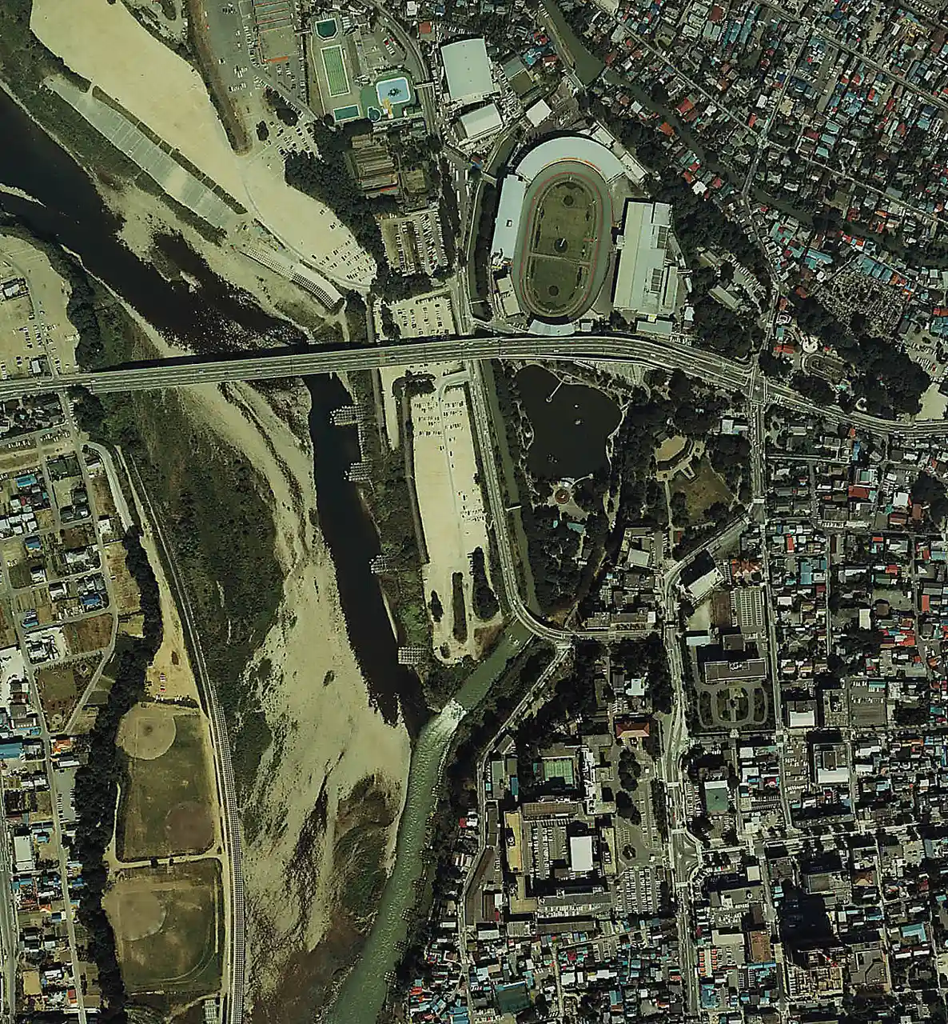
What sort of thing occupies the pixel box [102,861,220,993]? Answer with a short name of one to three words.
baseball field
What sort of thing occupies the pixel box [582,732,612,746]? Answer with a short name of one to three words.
building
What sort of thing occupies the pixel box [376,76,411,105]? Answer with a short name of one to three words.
swimming pool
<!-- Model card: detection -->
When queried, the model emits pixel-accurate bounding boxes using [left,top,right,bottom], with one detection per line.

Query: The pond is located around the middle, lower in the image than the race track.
[516,365,622,478]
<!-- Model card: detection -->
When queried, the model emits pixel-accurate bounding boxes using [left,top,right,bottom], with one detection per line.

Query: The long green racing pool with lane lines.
[320,44,350,97]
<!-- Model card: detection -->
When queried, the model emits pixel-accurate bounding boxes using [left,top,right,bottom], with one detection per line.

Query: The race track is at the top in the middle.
[515,162,616,321]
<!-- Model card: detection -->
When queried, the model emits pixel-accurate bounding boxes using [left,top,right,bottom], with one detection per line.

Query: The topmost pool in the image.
[315,18,339,39]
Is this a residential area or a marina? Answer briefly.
residential area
